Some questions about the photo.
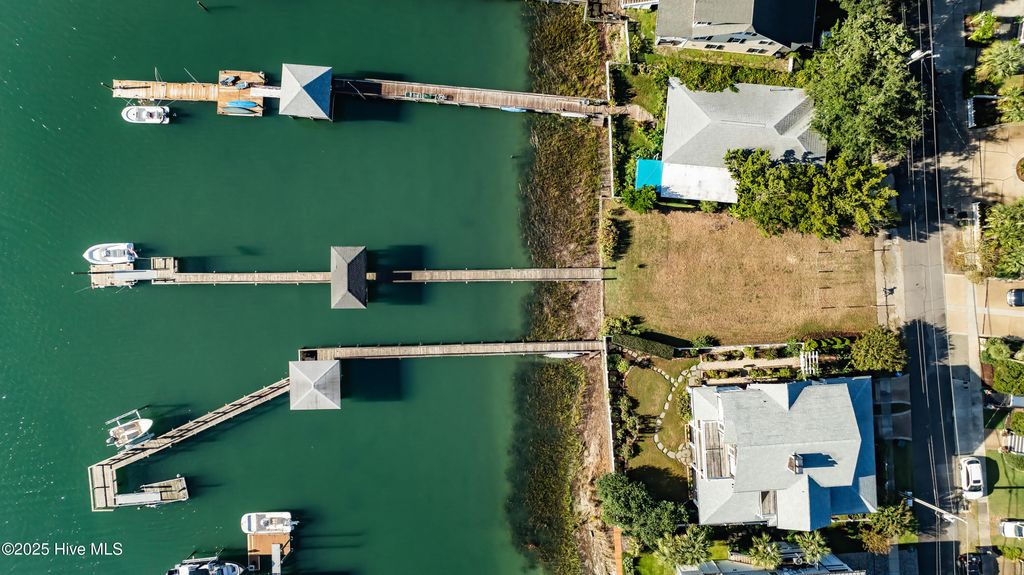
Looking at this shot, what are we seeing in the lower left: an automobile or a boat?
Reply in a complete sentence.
There is a boat in the lower left.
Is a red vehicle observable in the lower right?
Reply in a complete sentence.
No, looking in the lower right, there is no red vehicle.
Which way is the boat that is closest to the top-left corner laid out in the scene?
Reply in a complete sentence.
The boat that is closest to the top-left corner runs horizontally in the image.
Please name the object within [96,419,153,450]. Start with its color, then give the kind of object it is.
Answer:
white boat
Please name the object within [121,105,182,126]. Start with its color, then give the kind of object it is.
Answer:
white boat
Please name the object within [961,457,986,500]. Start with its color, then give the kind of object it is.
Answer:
white car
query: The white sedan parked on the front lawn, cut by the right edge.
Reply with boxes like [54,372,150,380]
[998,520,1024,541]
